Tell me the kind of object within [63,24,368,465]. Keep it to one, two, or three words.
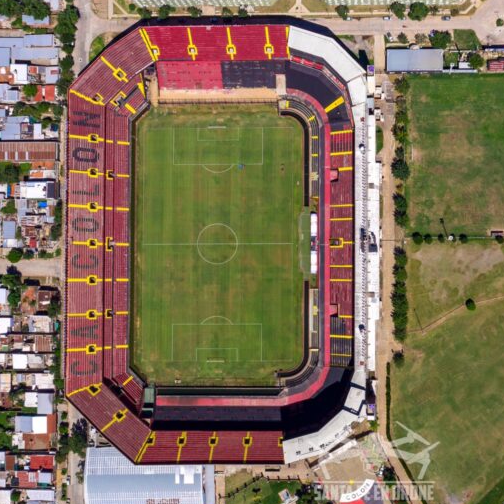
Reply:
stadium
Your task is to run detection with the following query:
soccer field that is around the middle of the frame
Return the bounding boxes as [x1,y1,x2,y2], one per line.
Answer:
[135,104,311,386]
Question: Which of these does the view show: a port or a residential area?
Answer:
residential area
